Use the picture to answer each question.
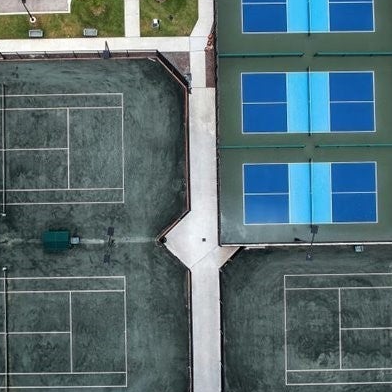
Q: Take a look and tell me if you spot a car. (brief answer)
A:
No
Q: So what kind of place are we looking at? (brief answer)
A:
sports ground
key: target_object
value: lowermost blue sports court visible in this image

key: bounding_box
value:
[243,162,378,225]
